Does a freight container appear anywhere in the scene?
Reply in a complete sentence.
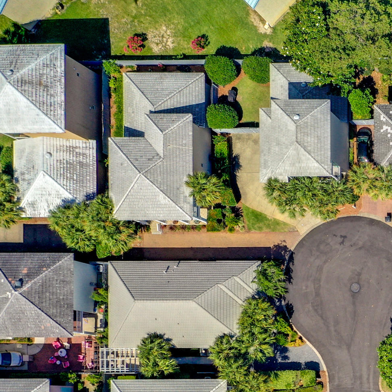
No, the frame has no freight container in it.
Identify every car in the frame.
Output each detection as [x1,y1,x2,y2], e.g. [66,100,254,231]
[354,126,373,165]
[0,349,26,368]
